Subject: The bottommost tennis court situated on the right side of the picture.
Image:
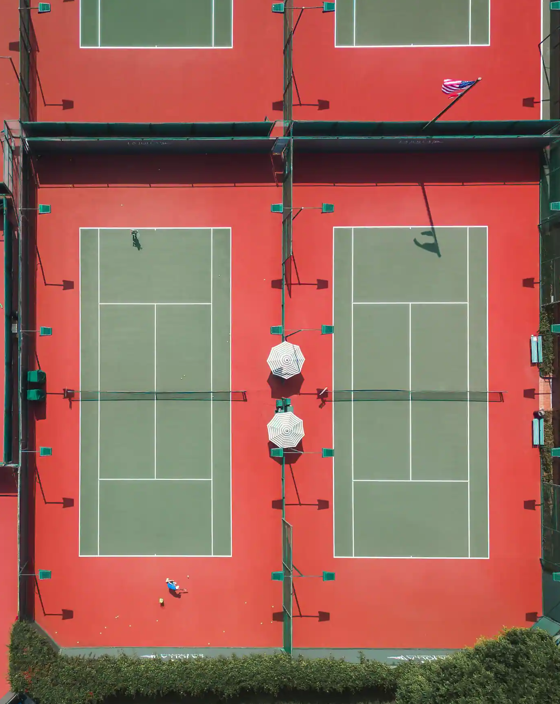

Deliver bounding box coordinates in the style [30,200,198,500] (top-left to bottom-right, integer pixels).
[284,153,540,647]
